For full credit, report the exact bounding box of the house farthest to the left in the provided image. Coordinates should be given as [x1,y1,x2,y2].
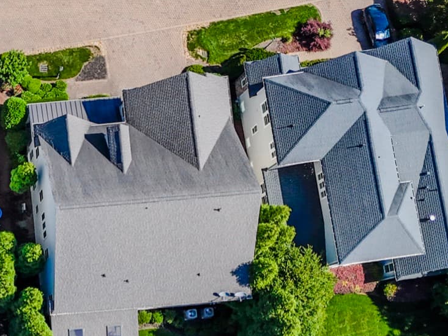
[27,72,268,336]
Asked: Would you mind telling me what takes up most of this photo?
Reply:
buildings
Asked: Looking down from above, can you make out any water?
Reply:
No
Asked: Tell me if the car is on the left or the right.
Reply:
right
